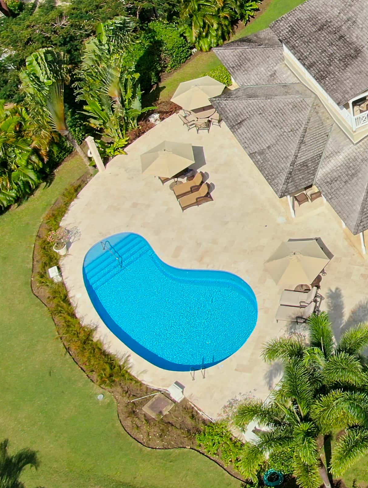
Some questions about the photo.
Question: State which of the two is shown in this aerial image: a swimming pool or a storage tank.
swimming pool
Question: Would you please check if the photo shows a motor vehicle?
No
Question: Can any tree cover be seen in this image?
Yes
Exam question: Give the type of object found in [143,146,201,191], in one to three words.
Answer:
umbrella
